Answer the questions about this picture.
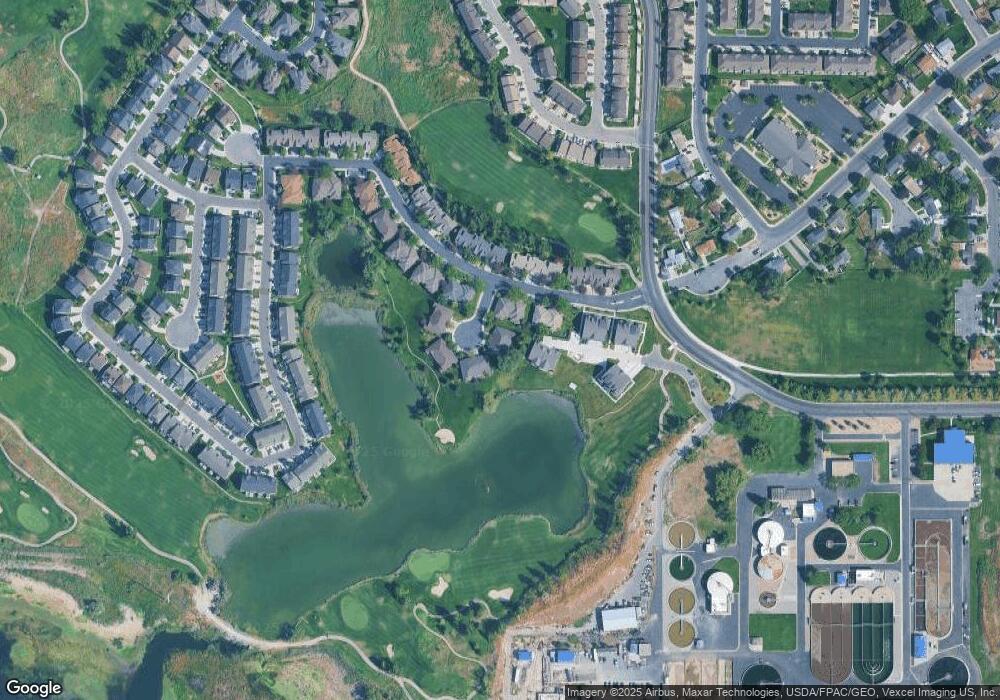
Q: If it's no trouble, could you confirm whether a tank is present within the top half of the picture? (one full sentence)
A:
No, no tank appears within the top half of the picture.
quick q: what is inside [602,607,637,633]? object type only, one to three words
building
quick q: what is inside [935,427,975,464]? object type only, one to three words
building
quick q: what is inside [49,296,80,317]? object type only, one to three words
house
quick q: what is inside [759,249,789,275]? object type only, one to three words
house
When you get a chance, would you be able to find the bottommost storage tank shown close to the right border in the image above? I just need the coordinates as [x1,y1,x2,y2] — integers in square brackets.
[927,657,970,698]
